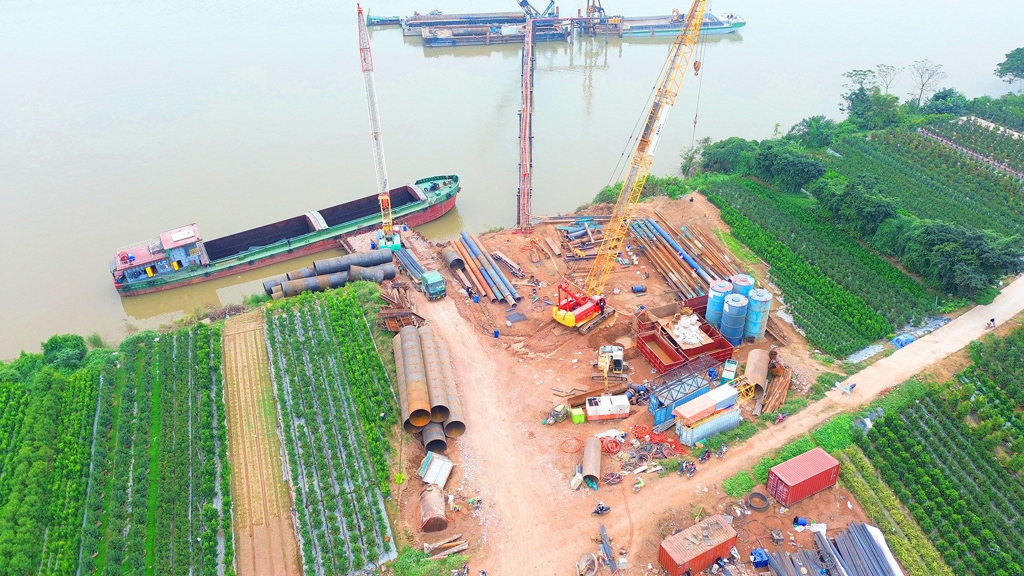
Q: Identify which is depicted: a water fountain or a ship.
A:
ship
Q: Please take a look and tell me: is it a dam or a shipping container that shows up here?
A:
shipping container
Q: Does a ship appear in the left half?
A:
Yes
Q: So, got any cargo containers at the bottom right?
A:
Yes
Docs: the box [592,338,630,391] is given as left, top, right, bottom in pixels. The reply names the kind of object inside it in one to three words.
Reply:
work vehicle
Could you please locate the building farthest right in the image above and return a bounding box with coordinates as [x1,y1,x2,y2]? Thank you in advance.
[721,359,738,384]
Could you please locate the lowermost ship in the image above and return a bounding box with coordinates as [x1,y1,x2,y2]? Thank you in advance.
[112,172,461,292]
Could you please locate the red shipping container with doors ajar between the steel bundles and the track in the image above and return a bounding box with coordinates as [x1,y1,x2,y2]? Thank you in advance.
[767,446,842,507]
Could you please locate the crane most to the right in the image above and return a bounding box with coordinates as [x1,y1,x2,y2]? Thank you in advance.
[548,0,711,337]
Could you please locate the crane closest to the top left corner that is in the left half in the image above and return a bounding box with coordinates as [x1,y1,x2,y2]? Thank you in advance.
[358,5,405,251]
